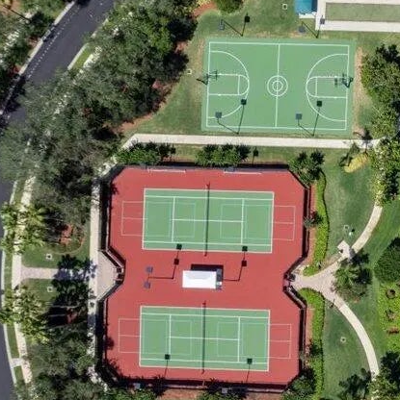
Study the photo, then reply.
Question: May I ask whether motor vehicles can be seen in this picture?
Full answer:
No, this view has no motor vehicle in it.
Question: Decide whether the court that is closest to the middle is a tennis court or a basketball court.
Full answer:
The court that is closest to the middle is a tennis court.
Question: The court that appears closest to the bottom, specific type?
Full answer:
In the photo, the court that appears closest to the bottom shows up as a tennis court.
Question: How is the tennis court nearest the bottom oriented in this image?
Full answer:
In this picture, the tennis court nearest the bottom is oriented from left to right.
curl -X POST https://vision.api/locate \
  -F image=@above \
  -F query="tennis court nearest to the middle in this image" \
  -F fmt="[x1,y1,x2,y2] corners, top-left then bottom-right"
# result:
[121,184,294,256]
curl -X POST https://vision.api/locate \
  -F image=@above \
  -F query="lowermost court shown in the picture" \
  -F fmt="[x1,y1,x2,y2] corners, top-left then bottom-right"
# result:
[119,303,290,374]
